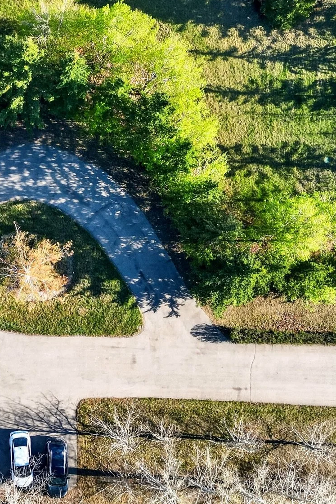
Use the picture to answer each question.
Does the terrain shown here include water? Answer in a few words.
No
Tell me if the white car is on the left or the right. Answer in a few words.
left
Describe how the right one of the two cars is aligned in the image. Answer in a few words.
from top to bottom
